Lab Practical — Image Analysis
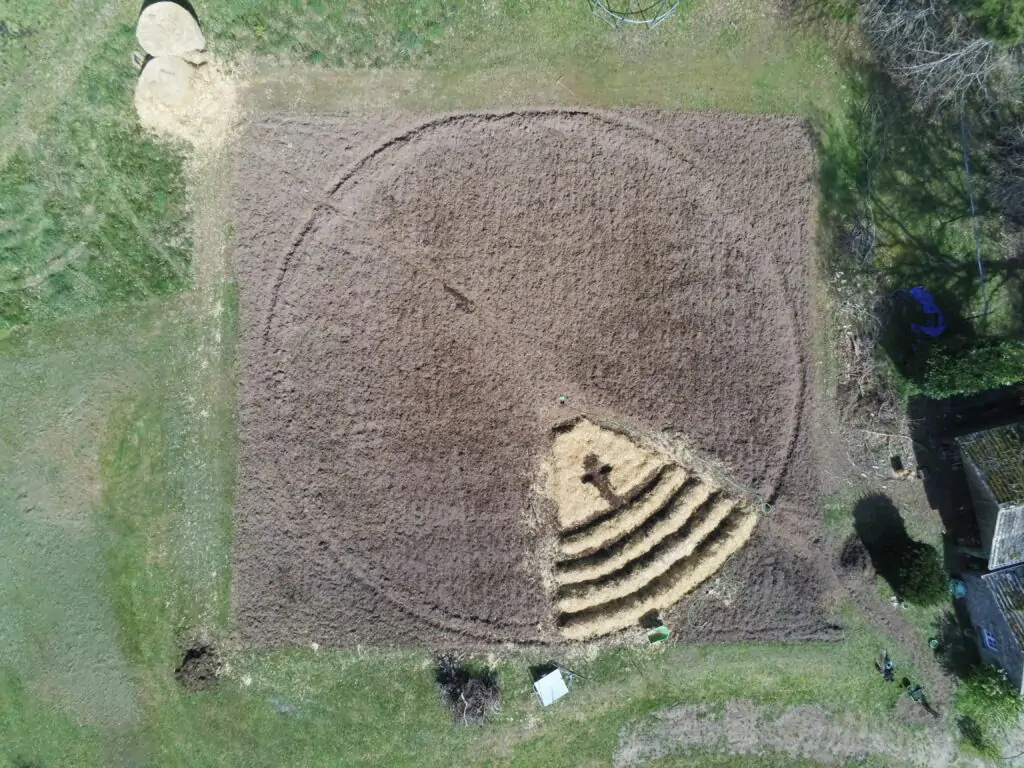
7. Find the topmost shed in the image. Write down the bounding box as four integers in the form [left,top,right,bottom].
[920,410,1024,579]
